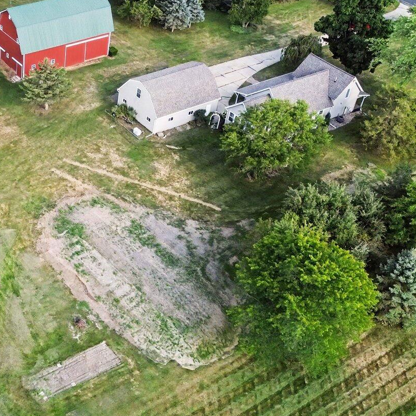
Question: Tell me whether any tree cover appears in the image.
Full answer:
Yes, there's tree cover in this view.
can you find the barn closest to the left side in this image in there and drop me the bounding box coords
[0,0,115,79]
